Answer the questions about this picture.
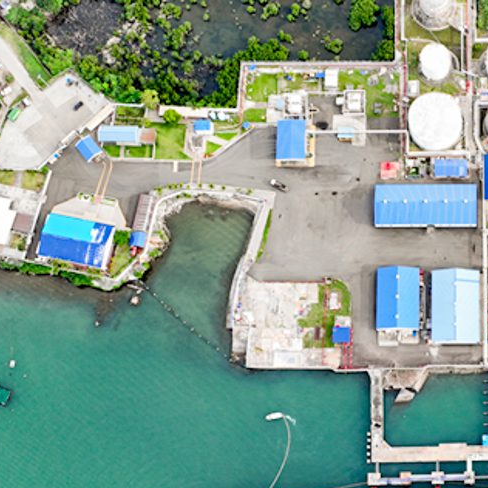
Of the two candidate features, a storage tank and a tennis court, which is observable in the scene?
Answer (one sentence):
There is a storage tank in the scene.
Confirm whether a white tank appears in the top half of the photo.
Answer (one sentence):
Yes, a white tank is visible in the top half of the photo.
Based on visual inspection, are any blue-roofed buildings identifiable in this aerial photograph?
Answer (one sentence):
Yes, there's a blue-roofed building down there.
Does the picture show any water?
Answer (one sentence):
Yes, the picture does contain water.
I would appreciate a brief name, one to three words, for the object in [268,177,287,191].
vehicle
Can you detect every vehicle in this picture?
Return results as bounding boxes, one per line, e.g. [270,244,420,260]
[73,101,84,111]
[268,177,287,191]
